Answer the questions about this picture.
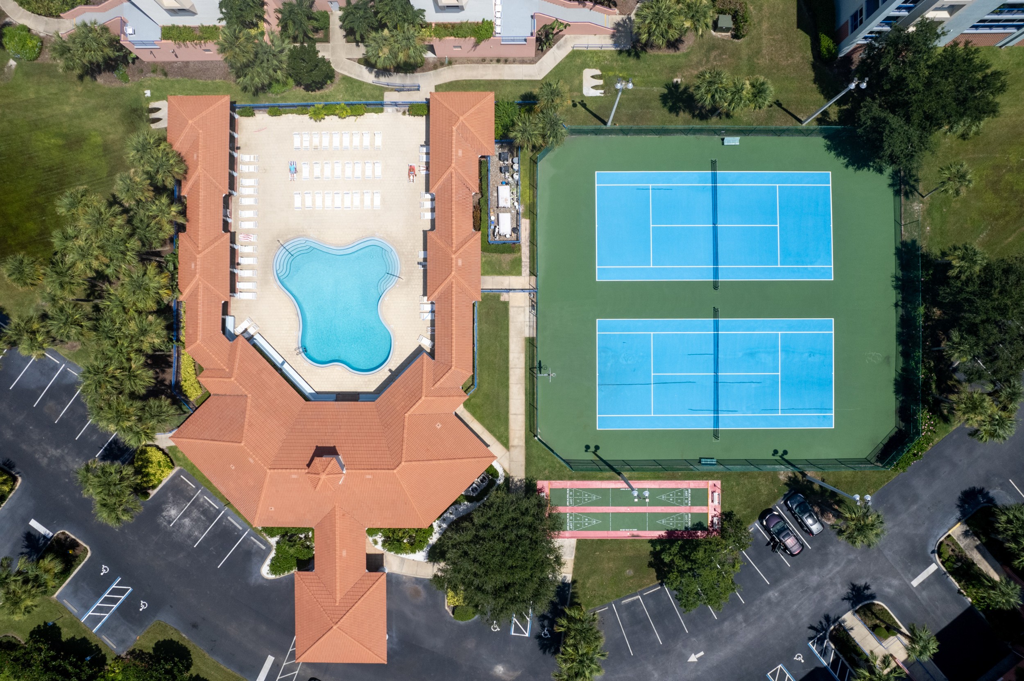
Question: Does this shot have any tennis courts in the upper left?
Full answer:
No, there's no tennis court to be seen in the upper left.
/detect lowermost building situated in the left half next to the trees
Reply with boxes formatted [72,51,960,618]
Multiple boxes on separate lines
[166,91,497,665]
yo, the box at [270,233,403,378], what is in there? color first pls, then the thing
blue swimming pool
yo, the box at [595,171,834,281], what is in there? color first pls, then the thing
blue tennis court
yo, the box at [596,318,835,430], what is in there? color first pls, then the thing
blue tennis court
